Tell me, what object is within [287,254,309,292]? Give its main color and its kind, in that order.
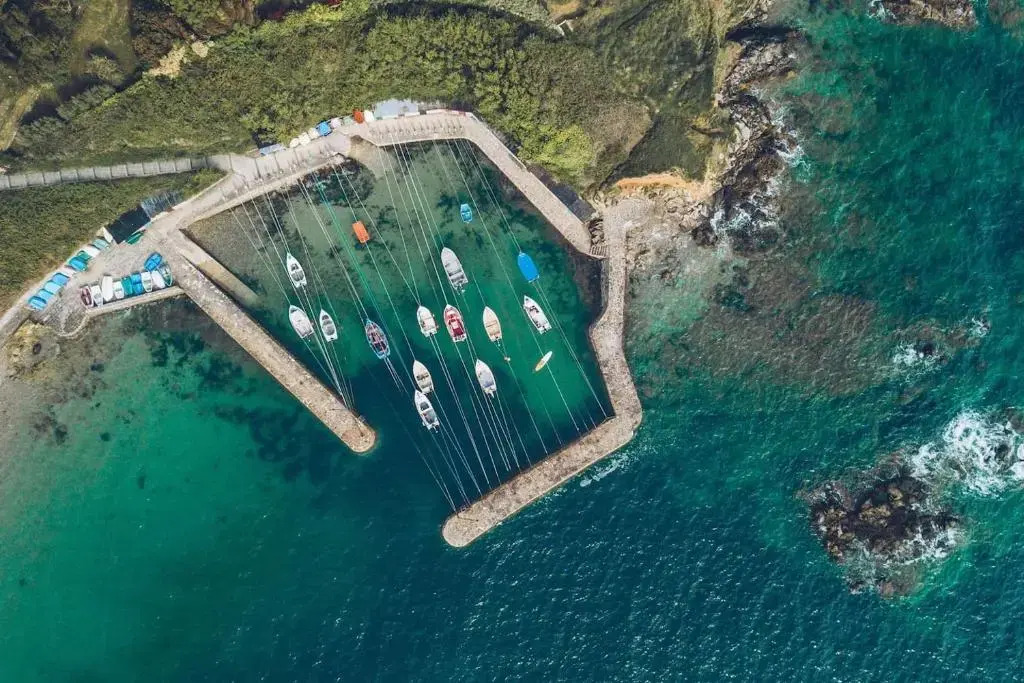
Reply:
white boat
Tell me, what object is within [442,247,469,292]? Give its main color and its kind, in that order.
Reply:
white boat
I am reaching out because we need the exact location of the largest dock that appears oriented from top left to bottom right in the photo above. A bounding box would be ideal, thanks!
[185,256,380,453]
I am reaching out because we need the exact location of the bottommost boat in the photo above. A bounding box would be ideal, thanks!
[416,390,440,432]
